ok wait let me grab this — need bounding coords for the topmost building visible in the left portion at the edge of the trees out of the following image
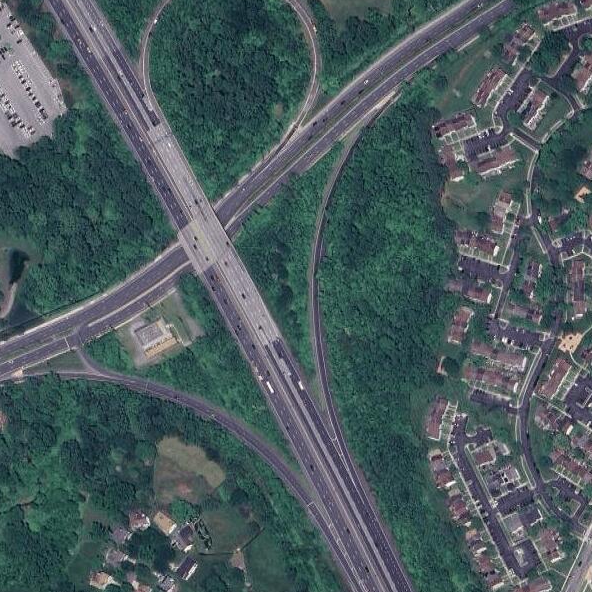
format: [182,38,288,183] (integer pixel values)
[135,317,178,358]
